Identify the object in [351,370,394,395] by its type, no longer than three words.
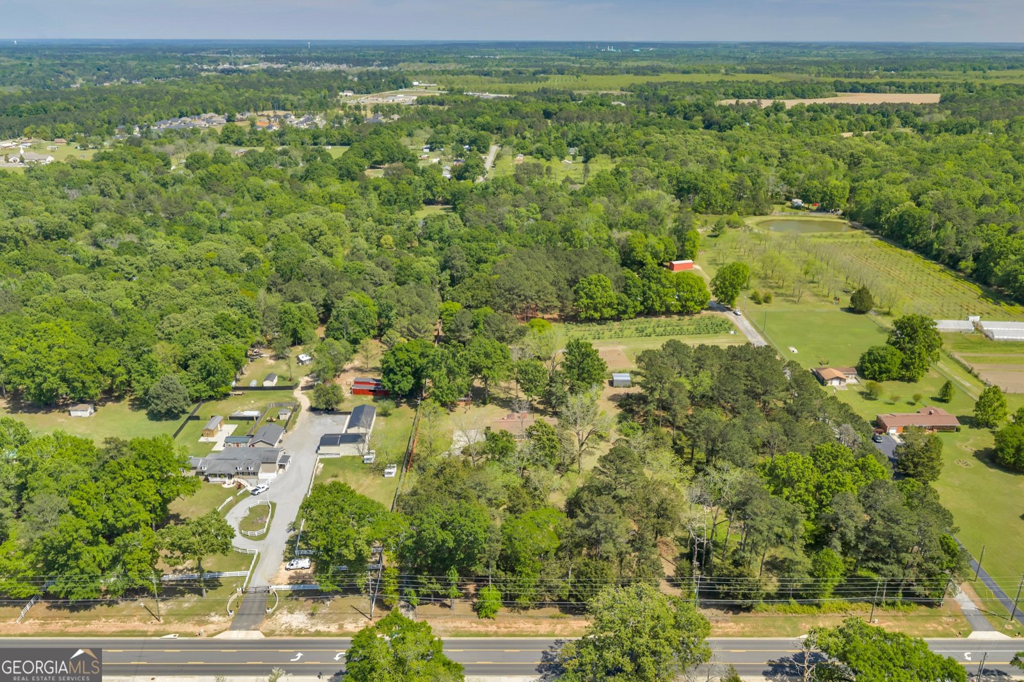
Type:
barn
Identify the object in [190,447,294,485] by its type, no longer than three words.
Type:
house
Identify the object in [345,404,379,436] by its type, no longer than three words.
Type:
building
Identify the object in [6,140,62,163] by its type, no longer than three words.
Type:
building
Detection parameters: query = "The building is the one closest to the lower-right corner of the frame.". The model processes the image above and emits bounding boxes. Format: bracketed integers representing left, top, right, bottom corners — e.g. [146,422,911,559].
[871,398,961,436]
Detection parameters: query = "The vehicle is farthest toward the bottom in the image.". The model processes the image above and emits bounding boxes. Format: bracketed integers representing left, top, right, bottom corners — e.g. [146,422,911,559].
[285,559,310,571]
